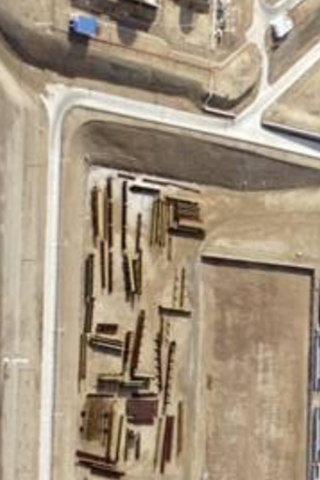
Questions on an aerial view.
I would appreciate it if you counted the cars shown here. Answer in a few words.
0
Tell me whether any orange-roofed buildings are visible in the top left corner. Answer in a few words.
No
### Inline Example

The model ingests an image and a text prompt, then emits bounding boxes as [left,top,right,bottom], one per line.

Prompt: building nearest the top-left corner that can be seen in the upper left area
[67,13,101,39]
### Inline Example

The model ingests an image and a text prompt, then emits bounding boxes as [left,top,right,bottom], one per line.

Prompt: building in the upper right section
[267,15,294,39]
